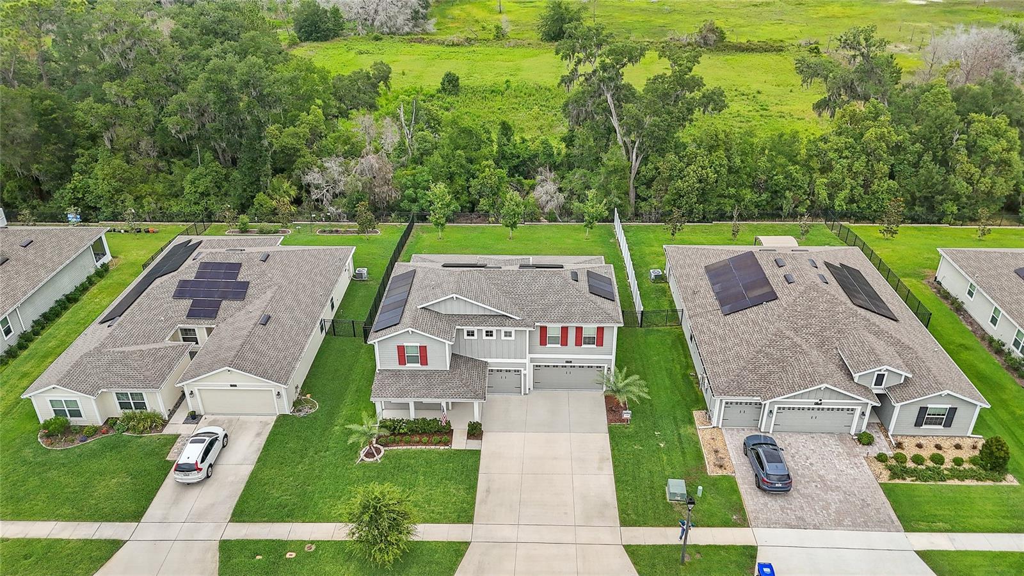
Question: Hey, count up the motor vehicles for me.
two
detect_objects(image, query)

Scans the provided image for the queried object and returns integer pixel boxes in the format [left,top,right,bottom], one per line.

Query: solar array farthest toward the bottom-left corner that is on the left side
[172,262,248,317]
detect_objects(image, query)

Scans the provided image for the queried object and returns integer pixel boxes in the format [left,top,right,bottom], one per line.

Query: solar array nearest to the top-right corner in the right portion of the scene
[704,250,777,313]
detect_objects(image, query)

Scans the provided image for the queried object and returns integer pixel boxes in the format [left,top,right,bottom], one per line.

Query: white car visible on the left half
[170,427,227,485]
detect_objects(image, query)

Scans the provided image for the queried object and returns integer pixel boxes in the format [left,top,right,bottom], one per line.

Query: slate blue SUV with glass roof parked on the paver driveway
[744,436,795,495]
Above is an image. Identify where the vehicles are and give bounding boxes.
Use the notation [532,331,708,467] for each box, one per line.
[170,427,227,485]
[744,436,795,495]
